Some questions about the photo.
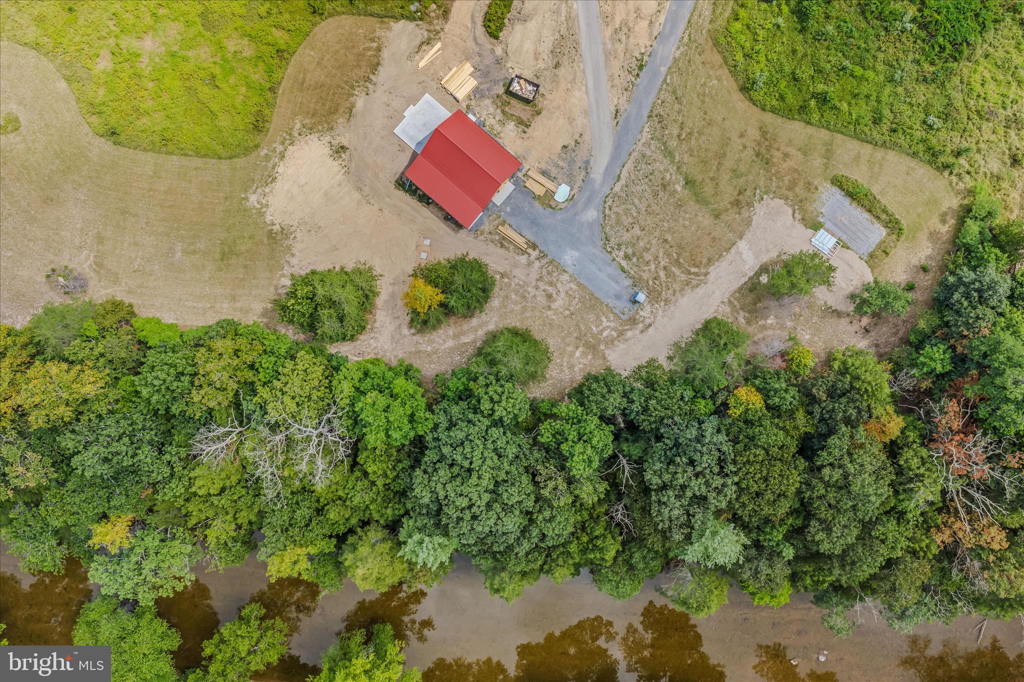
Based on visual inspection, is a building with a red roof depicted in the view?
Yes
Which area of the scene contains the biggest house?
top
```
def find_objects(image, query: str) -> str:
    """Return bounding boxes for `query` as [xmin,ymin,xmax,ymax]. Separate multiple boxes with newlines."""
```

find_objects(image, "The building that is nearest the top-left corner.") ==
[404,109,523,232]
